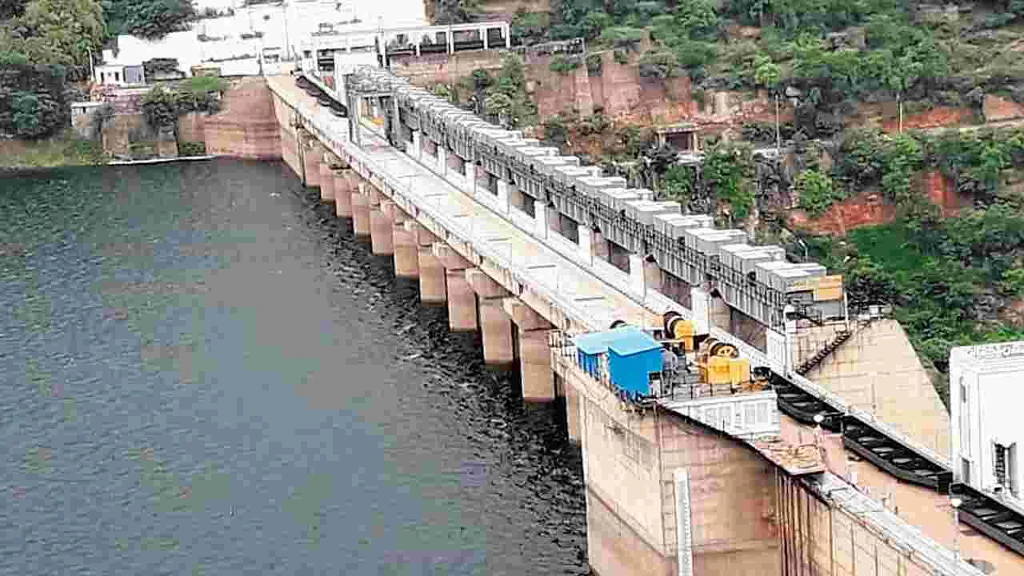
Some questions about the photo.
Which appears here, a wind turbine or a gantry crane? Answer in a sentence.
There is a gantry crane in the scene.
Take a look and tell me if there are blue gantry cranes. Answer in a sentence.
No, I can see no blue gantry crane in this picture.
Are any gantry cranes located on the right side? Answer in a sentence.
No, no gantry crane is visible on the right side.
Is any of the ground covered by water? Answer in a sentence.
Yes, water shows up in the scene.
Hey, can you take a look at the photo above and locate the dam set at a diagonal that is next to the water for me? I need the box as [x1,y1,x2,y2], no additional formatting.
[251,65,1024,576]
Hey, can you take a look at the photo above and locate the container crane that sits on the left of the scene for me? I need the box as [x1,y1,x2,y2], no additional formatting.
[342,68,397,145]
